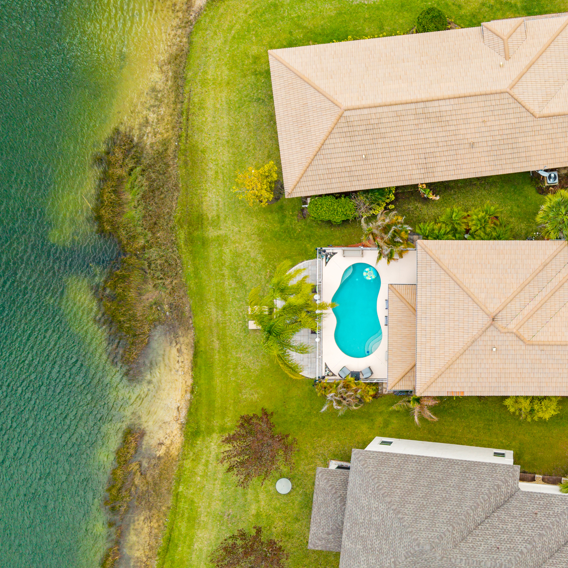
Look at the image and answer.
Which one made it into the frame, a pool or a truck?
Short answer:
pool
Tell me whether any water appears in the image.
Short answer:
Yes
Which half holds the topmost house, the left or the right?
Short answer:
right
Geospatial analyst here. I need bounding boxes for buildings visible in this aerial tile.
[386,238,568,398]
[307,438,568,568]
[267,15,568,199]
